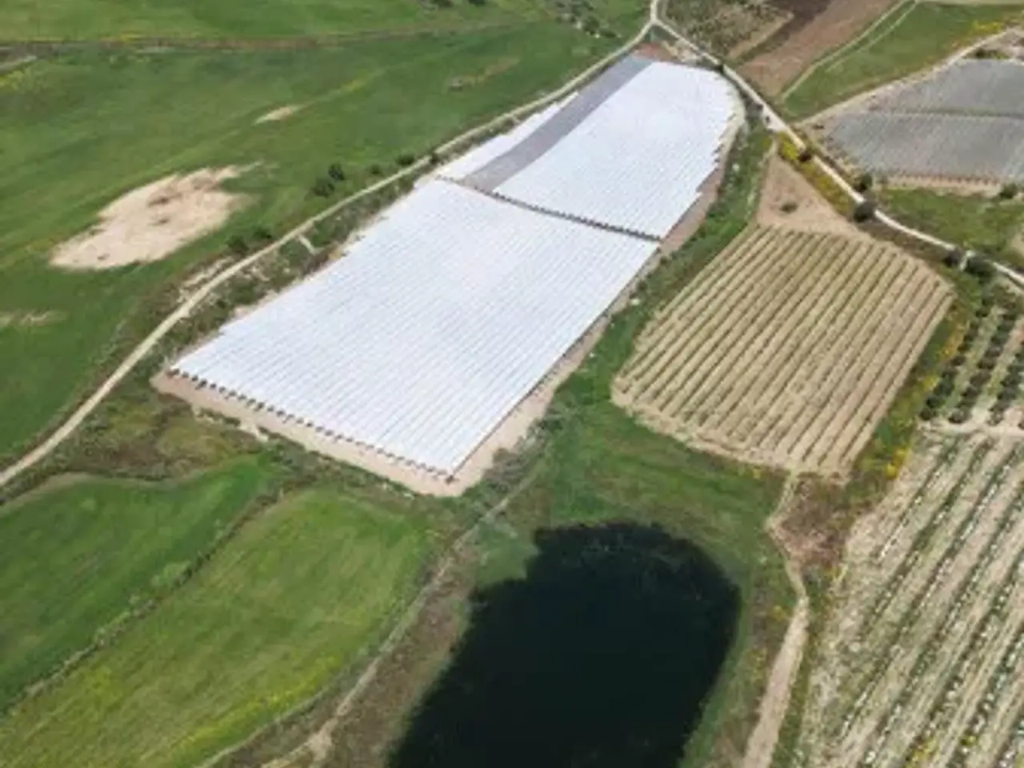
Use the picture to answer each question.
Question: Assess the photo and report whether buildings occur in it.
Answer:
No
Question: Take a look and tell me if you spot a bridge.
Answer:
No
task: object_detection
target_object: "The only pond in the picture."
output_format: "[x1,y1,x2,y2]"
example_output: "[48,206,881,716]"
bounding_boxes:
[380,518,745,768]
